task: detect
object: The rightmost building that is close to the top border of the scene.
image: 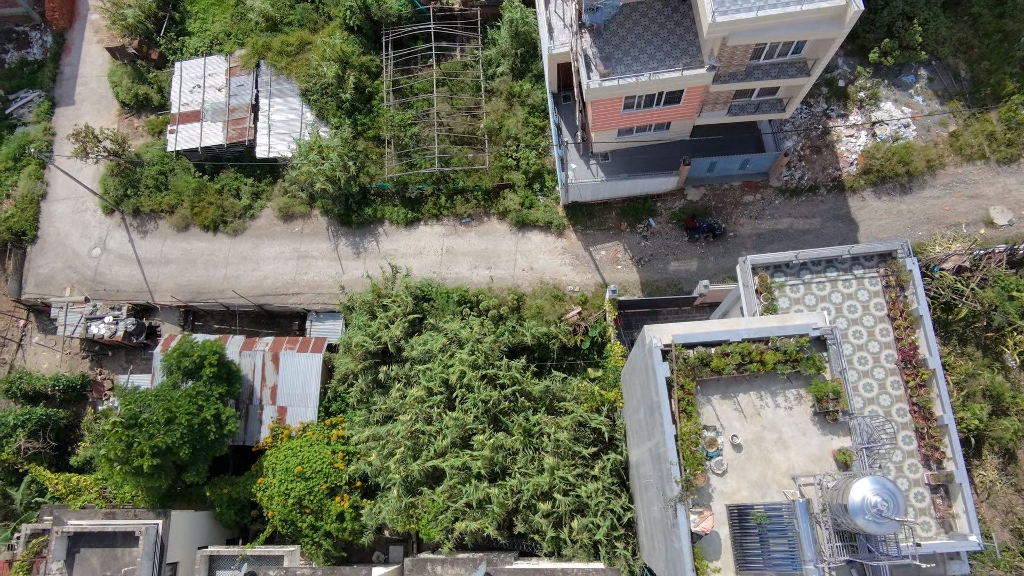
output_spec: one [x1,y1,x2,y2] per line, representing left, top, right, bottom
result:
[538,0,862,151]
